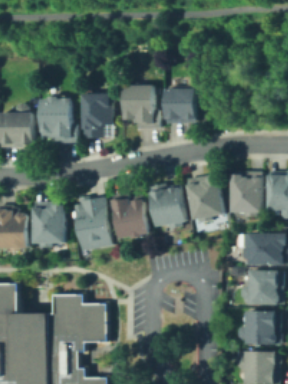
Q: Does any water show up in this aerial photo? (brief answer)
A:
No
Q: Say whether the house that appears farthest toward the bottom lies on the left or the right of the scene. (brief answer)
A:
right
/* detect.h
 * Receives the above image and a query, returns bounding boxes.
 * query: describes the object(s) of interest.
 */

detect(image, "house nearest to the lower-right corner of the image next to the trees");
[242,354,286,384]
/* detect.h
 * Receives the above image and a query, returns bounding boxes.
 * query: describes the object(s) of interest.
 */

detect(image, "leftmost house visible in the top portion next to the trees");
[0,112,33,148]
